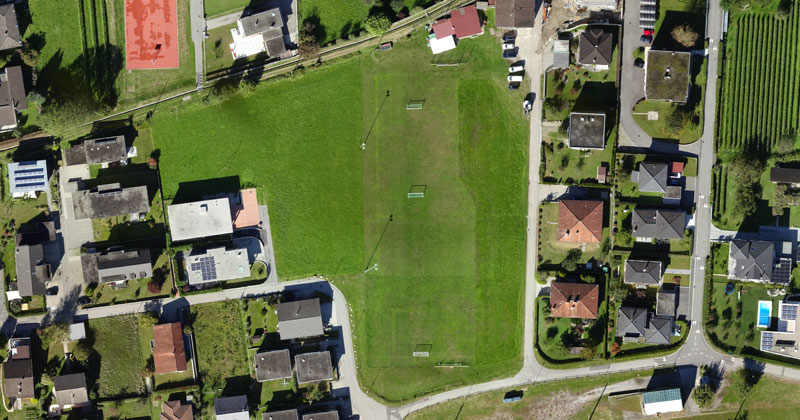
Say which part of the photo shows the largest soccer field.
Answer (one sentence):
The largest soccer field is located in the center region of the scene.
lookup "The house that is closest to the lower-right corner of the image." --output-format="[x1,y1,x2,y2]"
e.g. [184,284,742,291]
[759,300,800,358]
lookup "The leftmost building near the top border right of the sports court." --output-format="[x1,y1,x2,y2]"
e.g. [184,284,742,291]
[230,9,286,60]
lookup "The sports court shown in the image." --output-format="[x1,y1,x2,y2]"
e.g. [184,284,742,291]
[125,0,179,69]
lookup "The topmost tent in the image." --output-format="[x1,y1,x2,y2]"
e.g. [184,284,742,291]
[429,36,455,55]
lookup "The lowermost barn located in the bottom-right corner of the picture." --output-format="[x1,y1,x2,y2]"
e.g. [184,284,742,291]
[640,386,683,415]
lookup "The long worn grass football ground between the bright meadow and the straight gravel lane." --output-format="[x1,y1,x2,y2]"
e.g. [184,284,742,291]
[331,38,529,405]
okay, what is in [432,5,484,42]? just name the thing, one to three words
building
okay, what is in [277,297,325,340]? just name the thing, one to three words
house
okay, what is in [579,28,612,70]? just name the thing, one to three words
house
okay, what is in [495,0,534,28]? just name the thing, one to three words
building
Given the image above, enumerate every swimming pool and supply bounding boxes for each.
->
[758,301,773,329]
